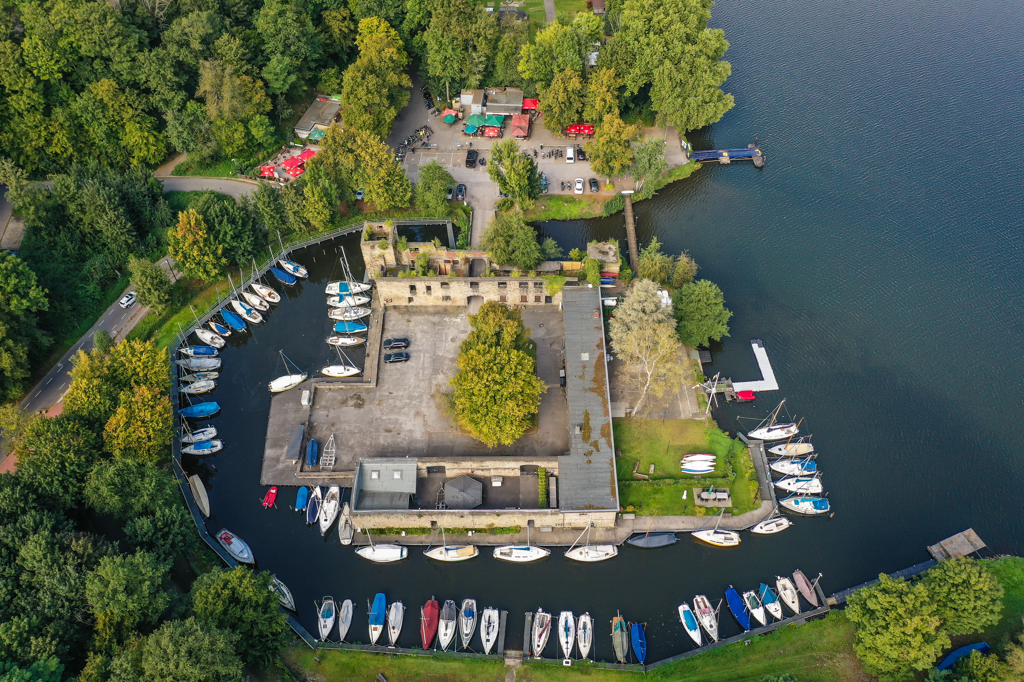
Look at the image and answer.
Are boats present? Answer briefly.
Yes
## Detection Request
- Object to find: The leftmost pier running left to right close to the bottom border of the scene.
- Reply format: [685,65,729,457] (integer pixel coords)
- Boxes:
[317,640,503,659]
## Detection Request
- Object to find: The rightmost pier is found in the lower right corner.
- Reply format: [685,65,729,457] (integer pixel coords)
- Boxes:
[824,554,936,606]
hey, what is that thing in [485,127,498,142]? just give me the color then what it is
red umbrella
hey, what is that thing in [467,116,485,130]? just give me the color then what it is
green umbrella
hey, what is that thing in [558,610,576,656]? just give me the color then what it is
white boat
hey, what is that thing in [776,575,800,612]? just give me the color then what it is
white boat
